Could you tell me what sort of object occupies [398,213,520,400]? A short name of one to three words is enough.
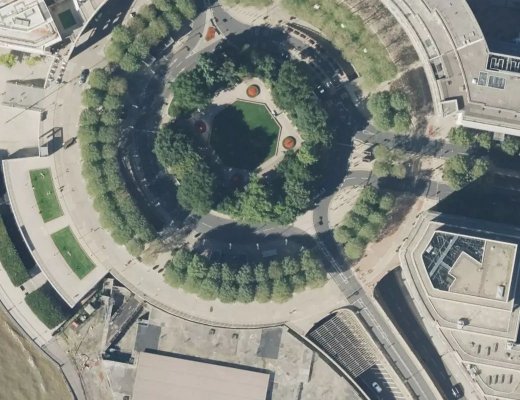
building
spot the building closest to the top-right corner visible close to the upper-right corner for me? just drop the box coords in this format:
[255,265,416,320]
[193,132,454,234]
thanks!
[376,0,520,139]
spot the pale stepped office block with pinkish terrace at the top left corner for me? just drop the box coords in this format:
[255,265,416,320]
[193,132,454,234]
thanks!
[0,0,63,59]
